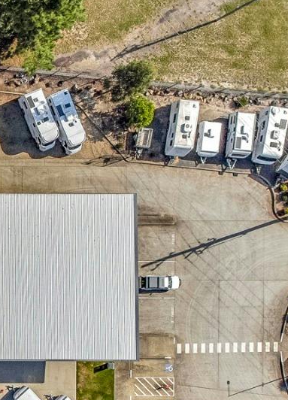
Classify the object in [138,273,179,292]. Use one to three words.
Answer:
vehicle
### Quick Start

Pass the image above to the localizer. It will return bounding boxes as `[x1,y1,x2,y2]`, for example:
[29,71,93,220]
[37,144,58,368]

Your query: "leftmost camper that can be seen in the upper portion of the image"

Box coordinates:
[13,89,59,155]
